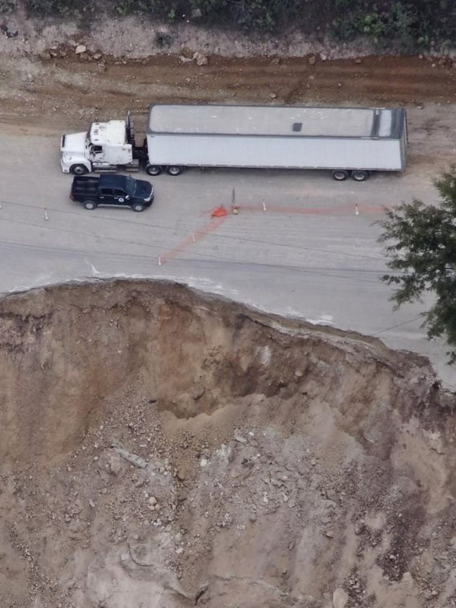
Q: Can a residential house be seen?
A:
No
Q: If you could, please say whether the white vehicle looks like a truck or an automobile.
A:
truck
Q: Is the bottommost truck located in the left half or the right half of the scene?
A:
left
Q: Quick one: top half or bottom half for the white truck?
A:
top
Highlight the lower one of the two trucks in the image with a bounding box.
[69,170,154,211]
